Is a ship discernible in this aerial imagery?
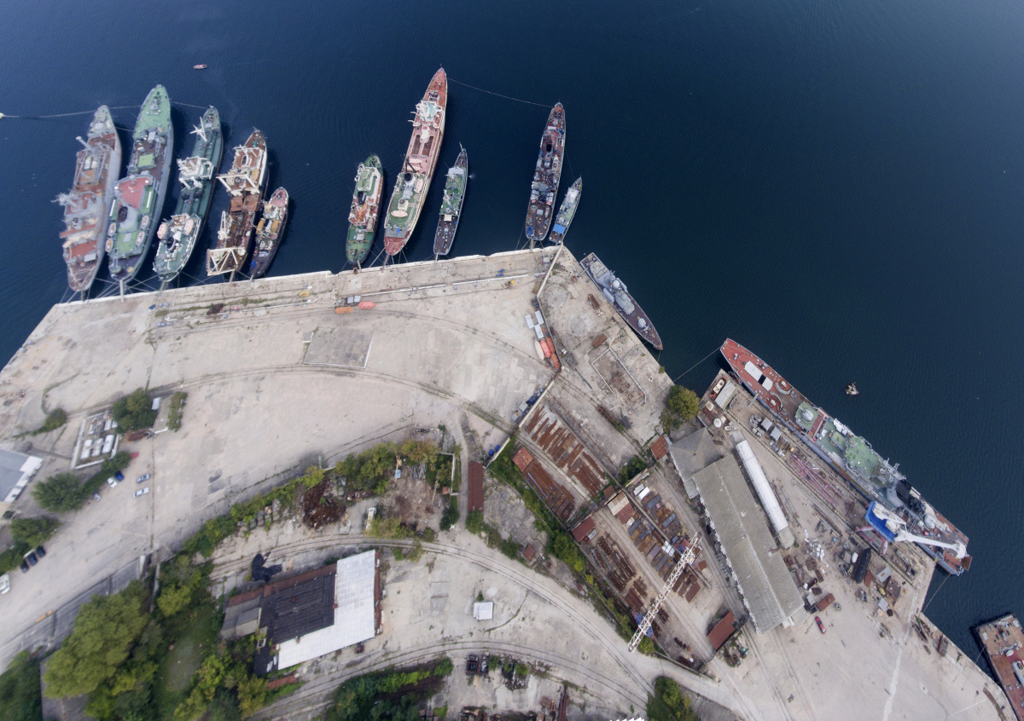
Yes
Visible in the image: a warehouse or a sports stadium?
warehouse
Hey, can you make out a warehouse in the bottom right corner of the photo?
Yes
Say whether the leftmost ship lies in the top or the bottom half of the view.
top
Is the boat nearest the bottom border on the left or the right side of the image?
right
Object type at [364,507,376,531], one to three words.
vehicle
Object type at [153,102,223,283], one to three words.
ship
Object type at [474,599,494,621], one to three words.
shed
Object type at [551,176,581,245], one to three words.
vessel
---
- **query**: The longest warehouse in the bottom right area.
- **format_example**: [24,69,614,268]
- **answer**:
[691,453,803,633]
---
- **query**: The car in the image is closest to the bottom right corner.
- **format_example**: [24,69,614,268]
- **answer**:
[814,617,827,635]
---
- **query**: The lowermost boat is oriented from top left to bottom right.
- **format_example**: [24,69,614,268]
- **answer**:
[983,688,1005,721]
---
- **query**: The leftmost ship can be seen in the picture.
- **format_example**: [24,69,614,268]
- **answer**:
[52,101,124,291]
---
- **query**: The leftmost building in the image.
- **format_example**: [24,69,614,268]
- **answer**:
[0,447,54,503]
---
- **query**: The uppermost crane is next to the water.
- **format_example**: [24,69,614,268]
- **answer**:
[854,501,966,563]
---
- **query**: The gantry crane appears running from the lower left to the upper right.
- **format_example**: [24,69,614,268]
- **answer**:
[626,533,705,655]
